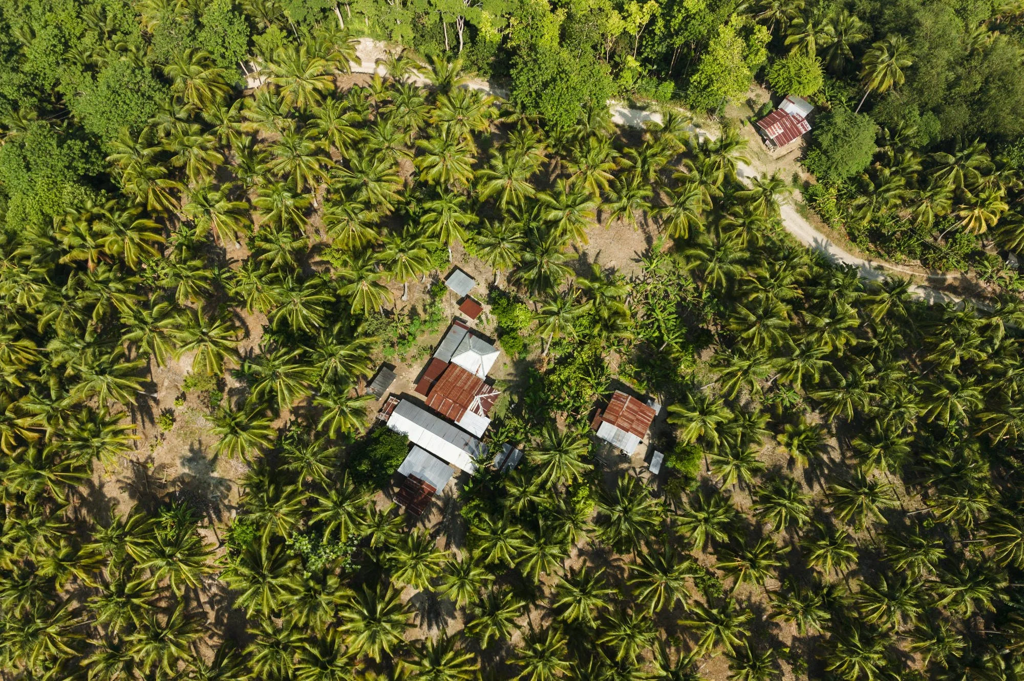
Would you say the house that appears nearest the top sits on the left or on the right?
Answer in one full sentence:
It is on the right.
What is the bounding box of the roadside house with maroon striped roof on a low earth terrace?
[753,94,814,154]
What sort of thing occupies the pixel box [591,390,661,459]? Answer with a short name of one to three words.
house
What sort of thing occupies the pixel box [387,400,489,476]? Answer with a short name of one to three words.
barn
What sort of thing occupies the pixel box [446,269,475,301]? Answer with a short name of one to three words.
shed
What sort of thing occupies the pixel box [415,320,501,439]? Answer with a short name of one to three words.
house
